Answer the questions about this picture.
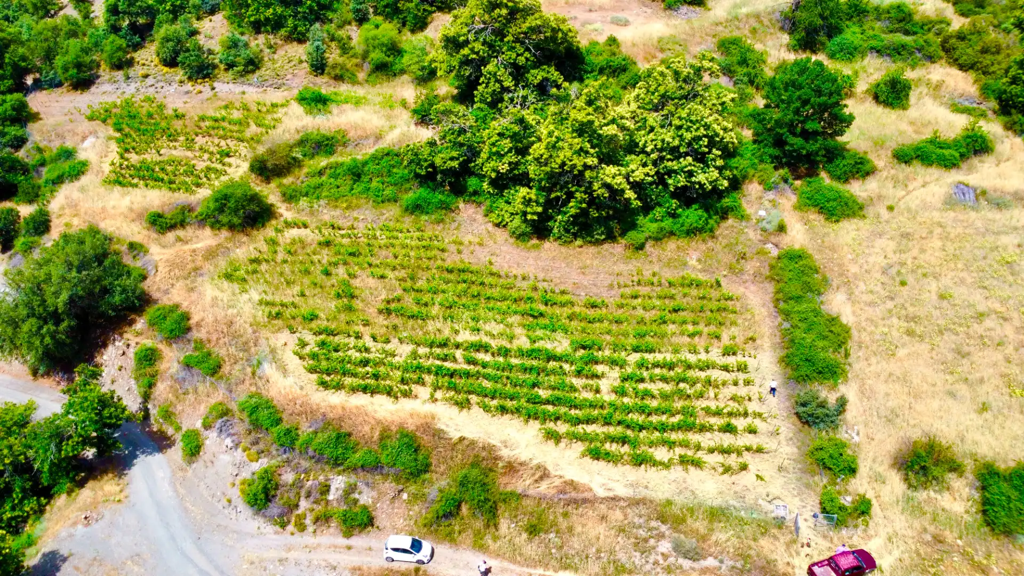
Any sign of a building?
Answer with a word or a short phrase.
No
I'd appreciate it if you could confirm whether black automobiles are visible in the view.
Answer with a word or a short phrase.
No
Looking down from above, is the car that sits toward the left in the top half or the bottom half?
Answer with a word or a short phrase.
bottom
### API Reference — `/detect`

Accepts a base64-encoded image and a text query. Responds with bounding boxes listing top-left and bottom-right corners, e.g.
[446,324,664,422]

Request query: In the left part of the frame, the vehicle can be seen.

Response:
[384,533,433,564]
